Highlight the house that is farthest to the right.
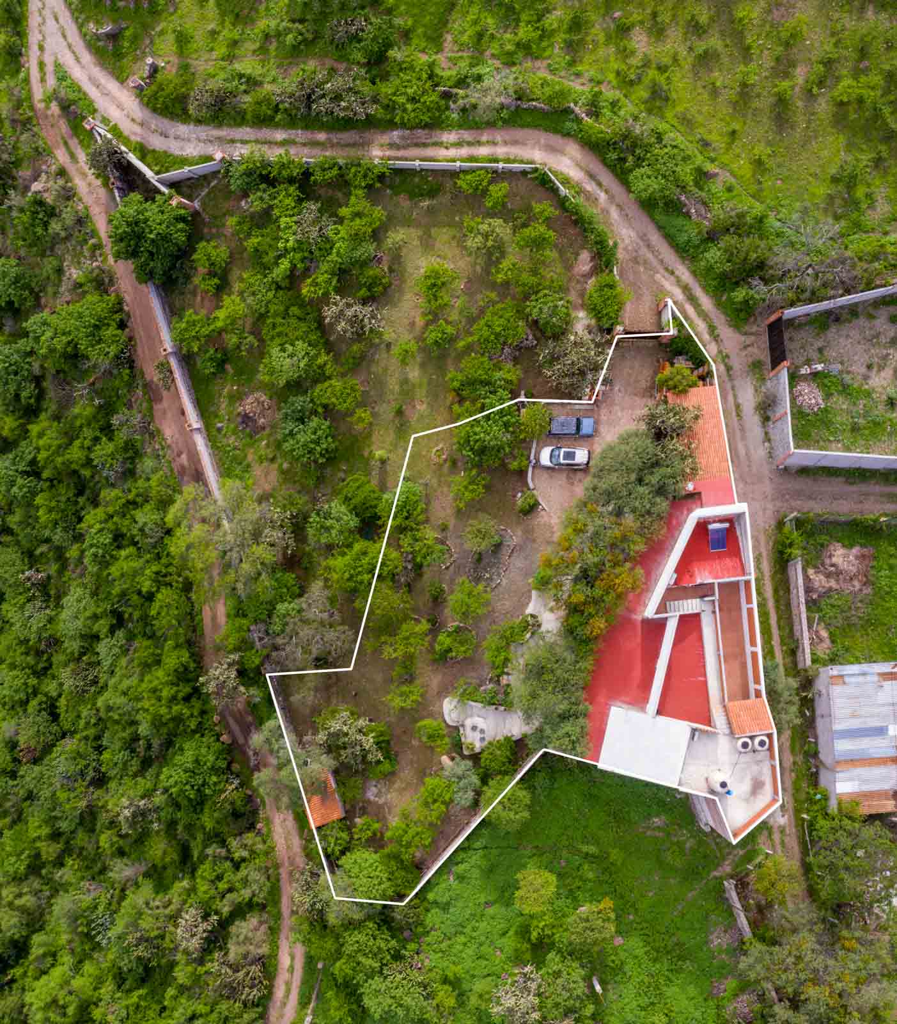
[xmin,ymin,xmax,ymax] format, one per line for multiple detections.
[818,662,897,814]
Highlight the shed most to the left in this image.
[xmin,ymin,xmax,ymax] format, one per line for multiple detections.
[302,767,348,828]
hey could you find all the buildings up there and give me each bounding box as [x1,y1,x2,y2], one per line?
[818,662,897,814]
[582,497,782,842]
[302,767,348,828]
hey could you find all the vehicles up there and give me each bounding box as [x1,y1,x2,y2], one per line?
[548,414,593,439]
[539,444,590,469]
